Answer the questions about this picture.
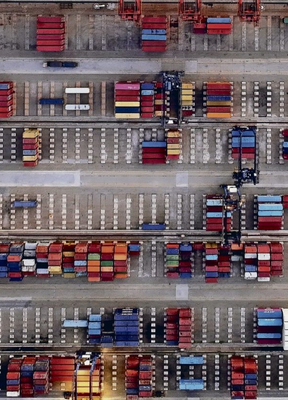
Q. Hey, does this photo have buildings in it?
No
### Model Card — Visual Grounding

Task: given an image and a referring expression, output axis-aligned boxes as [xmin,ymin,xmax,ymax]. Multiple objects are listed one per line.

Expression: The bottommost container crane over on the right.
[215,184,246,249]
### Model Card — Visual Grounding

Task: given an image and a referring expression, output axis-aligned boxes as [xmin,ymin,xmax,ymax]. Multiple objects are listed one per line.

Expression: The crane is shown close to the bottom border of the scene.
[71,348,103,400]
